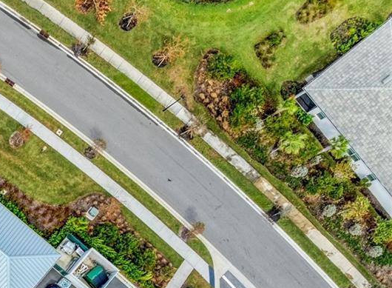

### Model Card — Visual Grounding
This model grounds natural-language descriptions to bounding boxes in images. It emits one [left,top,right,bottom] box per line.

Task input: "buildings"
[0,204,61,288]
[295,17,392,219]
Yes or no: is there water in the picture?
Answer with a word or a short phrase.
No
